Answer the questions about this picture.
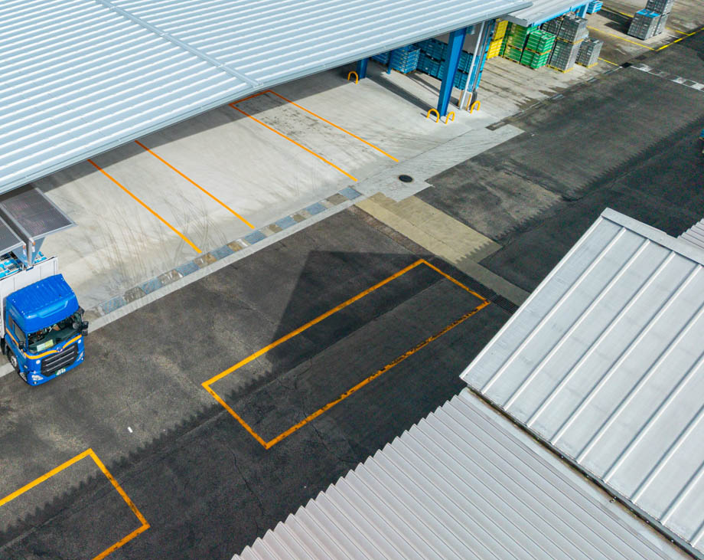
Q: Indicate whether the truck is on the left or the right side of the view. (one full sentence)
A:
The truck sits on the left side.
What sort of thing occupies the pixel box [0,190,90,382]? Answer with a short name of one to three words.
truck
